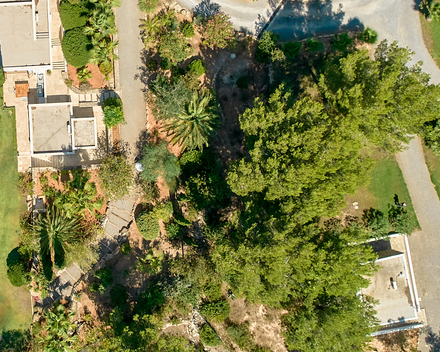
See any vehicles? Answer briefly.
No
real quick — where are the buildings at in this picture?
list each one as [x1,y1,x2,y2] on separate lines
[0,0,52,73]
[347,249,418,327]
[29,103,97,156]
